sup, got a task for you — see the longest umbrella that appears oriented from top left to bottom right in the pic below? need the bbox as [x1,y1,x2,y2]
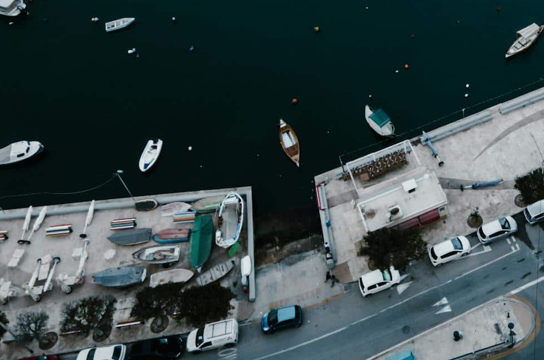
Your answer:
[422,133,444,167]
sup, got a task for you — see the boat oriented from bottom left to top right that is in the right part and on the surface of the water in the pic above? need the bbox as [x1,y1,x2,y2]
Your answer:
[506,20,544,57]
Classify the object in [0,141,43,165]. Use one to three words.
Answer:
boat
